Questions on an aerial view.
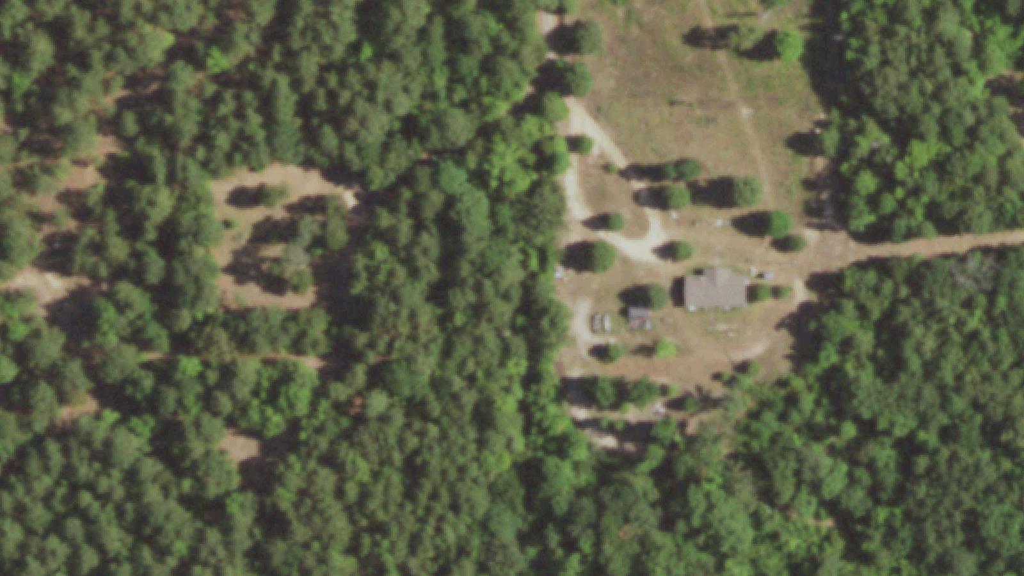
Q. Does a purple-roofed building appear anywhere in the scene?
No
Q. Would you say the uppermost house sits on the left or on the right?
right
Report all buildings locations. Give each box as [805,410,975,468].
[629,308,649,328]
[685,266,748,309]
